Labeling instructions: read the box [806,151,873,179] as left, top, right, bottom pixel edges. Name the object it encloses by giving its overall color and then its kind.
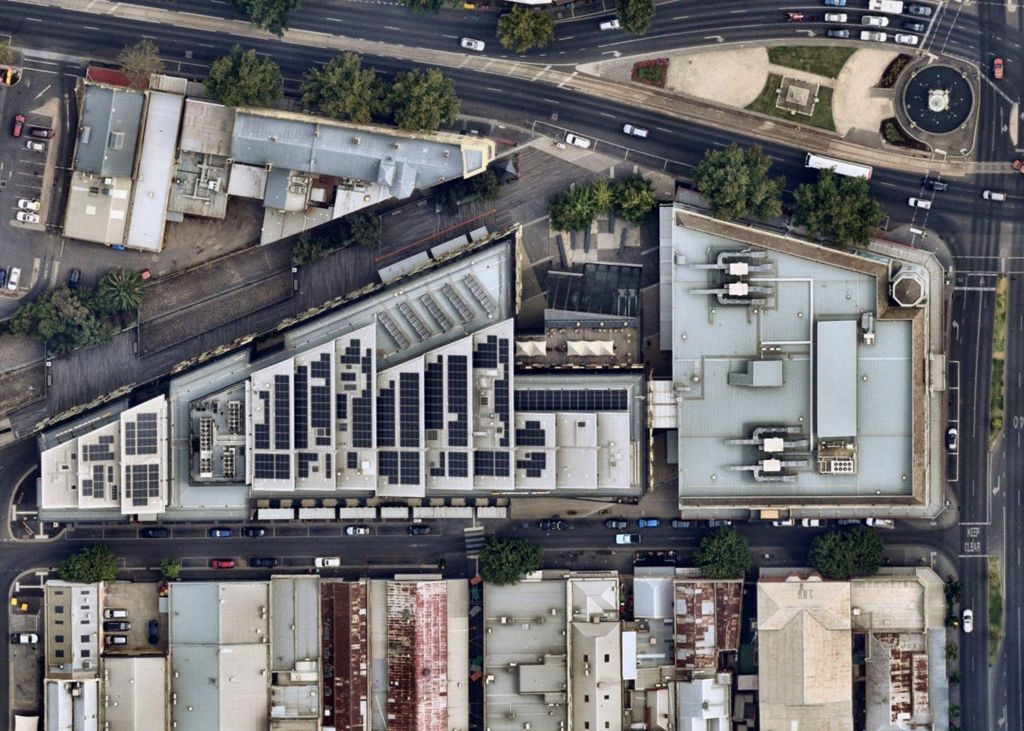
white bus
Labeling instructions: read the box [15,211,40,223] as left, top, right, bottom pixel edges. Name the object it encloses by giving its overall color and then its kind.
white vehicle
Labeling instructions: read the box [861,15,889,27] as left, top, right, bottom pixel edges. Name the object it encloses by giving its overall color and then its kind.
white vehicle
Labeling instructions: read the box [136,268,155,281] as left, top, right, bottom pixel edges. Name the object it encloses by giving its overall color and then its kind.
red vehicle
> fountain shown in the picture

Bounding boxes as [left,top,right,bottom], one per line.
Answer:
[902,63,975,135]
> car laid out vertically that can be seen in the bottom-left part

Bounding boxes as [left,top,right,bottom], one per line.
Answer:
[147,620,159,645]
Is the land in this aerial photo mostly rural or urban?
urban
